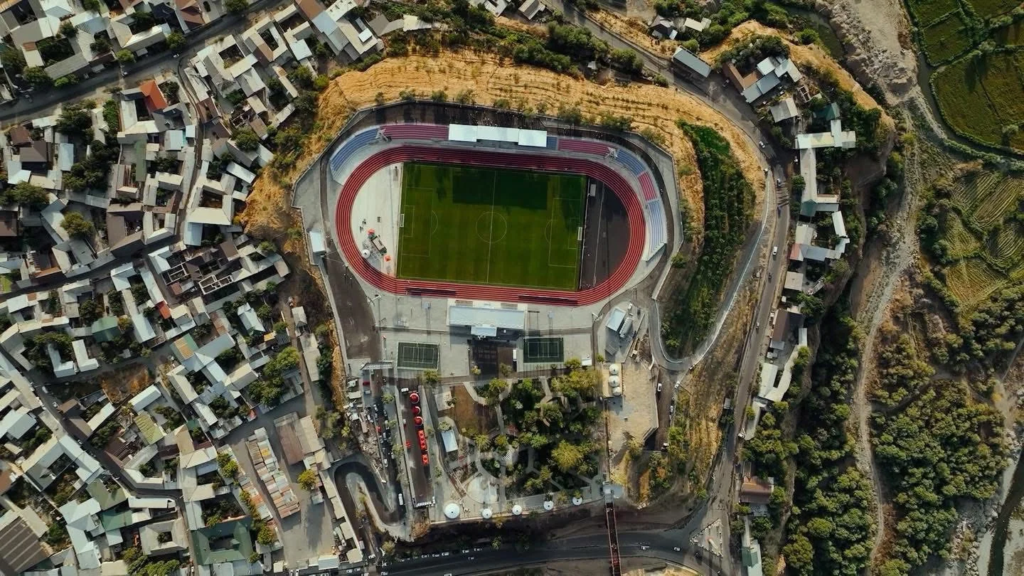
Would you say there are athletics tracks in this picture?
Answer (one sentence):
Yes, looking at the shot, I can spot an athletics track.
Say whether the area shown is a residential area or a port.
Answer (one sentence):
This looks like a residential area.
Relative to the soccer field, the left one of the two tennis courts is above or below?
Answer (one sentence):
As seen from overhead, the left one of the two tennis courts falls below the soccer field in the picture.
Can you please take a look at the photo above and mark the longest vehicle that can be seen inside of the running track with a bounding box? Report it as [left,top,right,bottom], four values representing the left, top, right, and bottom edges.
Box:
[369,234,387,252]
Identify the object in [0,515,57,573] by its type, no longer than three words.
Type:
house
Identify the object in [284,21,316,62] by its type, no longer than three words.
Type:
house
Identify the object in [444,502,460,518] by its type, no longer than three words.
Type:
umbrella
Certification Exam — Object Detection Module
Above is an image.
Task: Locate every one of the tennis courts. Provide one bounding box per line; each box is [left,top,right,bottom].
[397,342,440,370]
[524,338,564,363]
